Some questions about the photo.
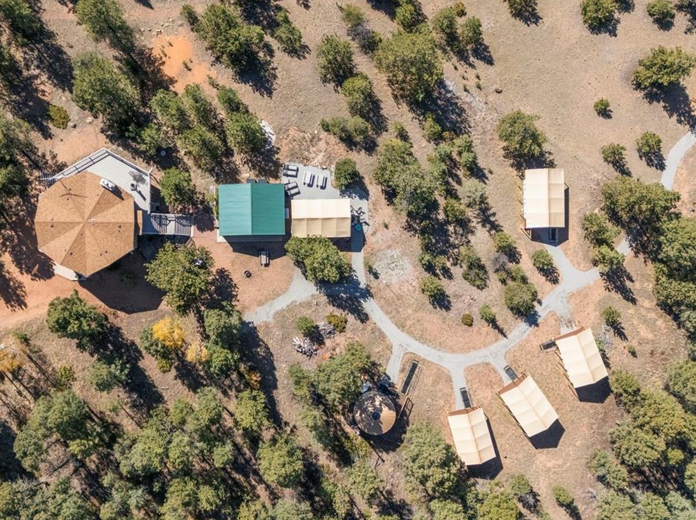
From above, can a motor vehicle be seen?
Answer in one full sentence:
No, the photo shows no motor vehicle.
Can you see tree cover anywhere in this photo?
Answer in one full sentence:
Yes, there is tree cover in the image.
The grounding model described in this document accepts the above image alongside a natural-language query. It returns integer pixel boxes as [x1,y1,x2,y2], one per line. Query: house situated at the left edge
[34,171,141,281]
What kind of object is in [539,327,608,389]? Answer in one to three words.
tent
